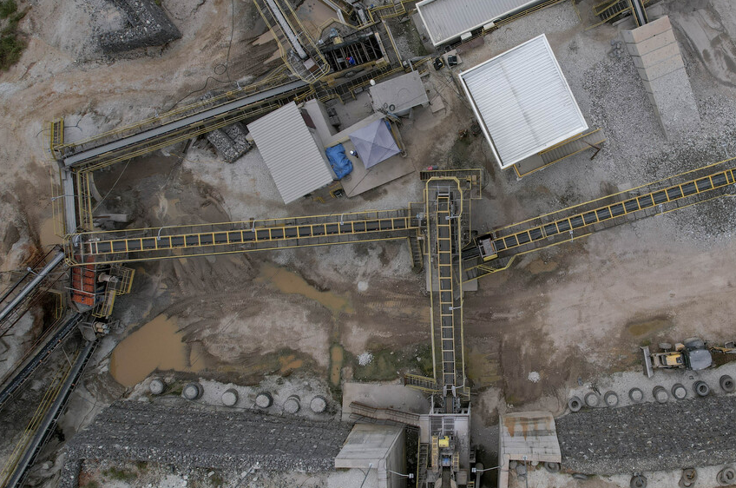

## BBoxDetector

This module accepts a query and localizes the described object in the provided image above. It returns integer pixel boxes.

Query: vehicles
[641,337,736,377]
